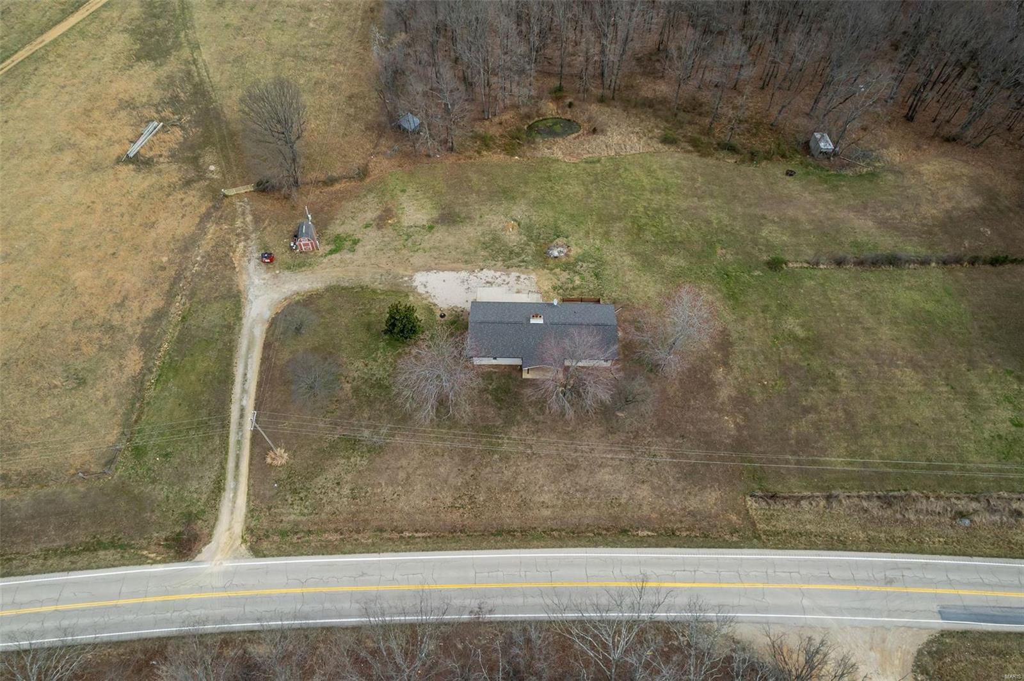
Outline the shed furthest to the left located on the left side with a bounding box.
[297,219,318,252]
